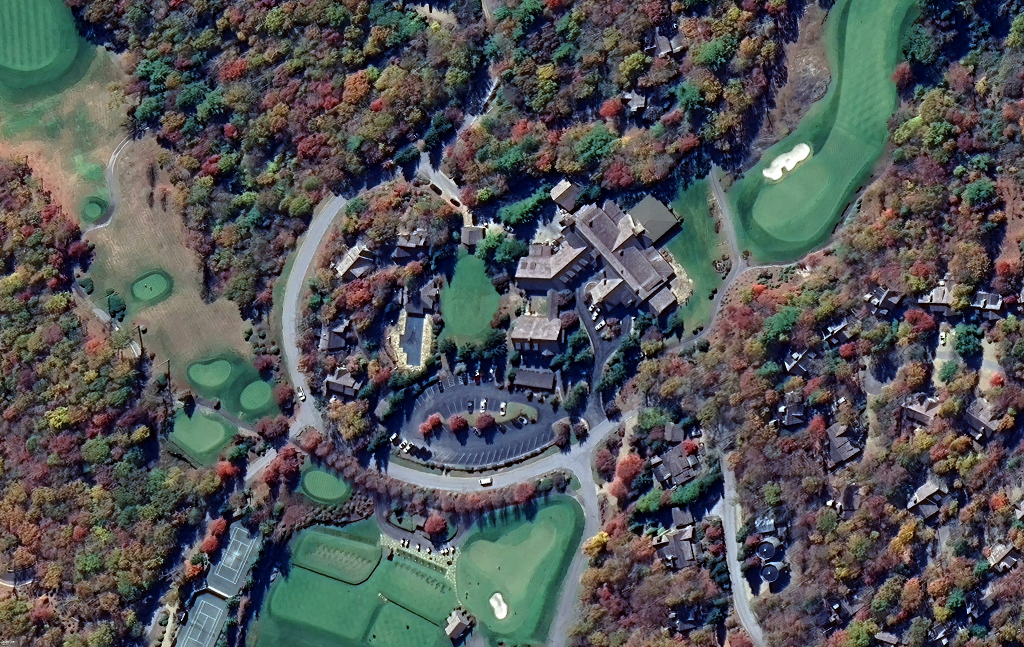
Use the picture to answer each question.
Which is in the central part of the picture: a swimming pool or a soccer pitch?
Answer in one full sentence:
There is a swimming pool in the central part of the picture.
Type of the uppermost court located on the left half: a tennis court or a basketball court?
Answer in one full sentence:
What you see as the uppermost court located on the left half is a tennis court.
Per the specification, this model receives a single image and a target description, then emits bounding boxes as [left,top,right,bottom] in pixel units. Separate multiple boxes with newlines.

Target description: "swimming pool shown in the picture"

[390,309,433,371]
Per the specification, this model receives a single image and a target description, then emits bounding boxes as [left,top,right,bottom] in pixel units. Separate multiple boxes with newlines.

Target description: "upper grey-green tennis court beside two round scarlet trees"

[207,520,259,597]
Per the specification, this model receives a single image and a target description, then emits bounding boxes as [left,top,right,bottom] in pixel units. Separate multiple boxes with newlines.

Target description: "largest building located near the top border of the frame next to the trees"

[647,29,688,55]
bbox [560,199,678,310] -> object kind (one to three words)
building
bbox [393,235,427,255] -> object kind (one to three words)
house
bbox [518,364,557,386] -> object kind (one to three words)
building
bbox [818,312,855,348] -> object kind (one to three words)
house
